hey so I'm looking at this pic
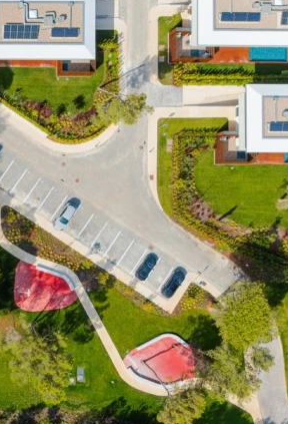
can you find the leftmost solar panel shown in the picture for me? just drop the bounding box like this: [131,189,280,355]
[4,25,40,42]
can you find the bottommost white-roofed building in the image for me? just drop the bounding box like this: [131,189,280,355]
[214,84,288,164]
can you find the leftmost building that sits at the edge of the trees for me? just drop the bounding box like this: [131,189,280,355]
[0,0,96,77]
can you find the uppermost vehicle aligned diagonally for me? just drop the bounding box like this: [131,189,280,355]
[55,201,78,229]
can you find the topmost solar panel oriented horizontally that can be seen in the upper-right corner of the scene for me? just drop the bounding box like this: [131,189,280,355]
[220,12,262,25]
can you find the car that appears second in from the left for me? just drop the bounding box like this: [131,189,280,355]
[134,253,157,281]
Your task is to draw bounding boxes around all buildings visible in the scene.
[0,0,96,77]
[214,84,288,164]
[168,0,288,63]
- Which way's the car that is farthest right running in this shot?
on a diagonal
